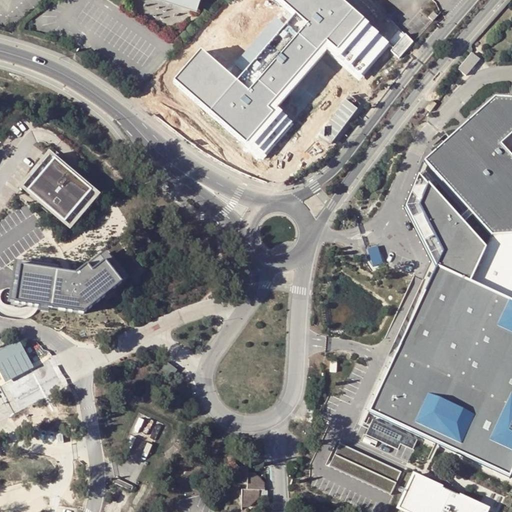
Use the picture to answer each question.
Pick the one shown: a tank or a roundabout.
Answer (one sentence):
The one in the frame is a roundabout.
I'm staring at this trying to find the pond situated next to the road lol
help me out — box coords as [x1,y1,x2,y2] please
[326,271,384,334]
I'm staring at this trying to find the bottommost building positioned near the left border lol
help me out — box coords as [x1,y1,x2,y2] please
[0,342,34,382]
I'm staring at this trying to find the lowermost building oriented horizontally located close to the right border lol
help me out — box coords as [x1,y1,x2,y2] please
[394,472,490,512]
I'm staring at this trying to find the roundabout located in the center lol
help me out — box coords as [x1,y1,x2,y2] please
[240,194,317,272]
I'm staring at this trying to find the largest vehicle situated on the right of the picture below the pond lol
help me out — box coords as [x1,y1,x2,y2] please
[362,436,380,448]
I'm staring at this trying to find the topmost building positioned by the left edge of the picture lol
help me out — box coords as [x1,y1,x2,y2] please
[22,150,100,229]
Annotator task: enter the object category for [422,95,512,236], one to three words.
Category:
building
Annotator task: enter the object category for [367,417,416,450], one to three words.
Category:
building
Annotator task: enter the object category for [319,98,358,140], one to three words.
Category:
shed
